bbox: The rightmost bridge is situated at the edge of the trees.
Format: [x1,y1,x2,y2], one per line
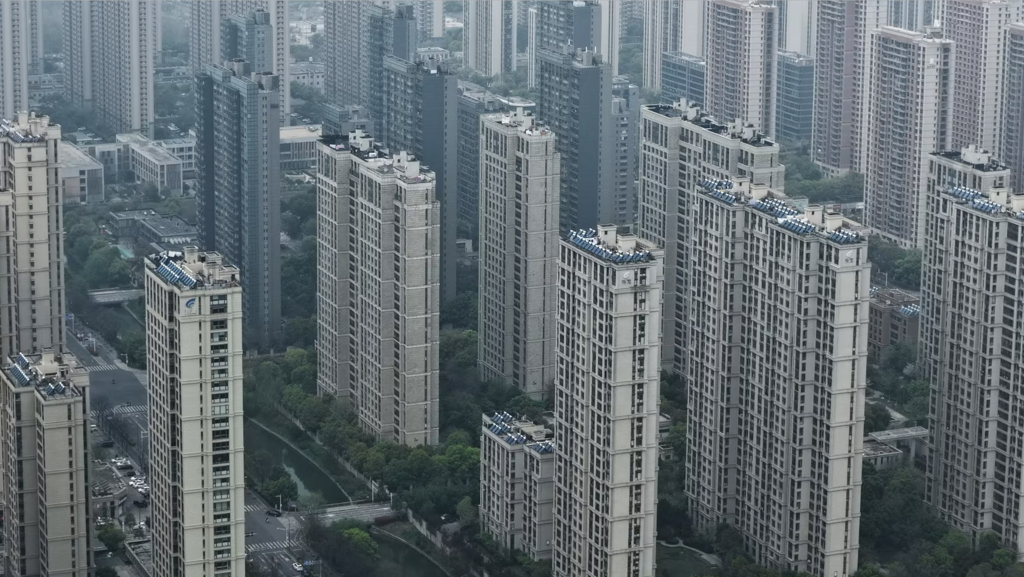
[311,499,407,528]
